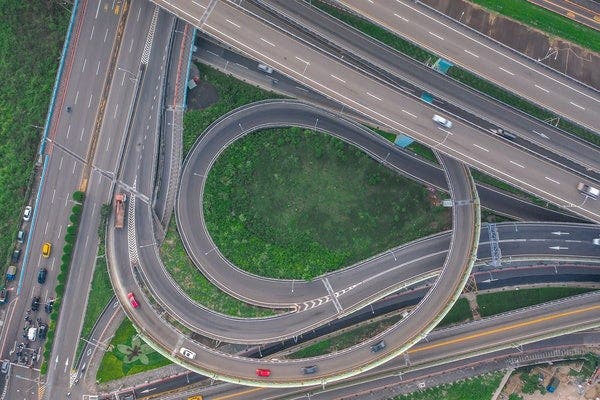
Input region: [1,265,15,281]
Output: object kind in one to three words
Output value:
vehicle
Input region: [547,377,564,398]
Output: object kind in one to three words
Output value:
vehicle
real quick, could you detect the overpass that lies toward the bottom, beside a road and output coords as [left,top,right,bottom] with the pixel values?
[156,289,600,400]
